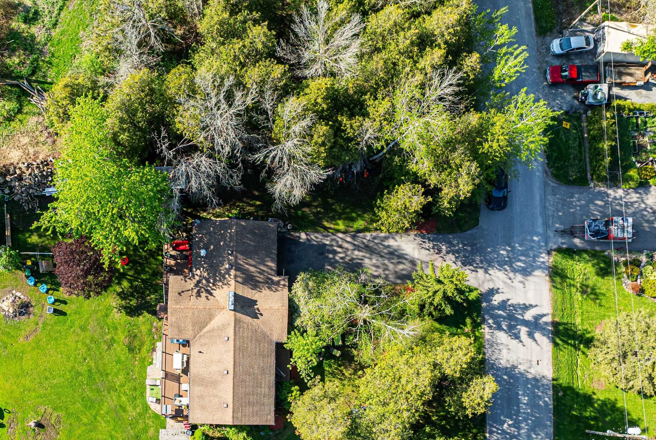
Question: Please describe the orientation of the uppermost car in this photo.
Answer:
horizontally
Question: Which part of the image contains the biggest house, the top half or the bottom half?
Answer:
bottom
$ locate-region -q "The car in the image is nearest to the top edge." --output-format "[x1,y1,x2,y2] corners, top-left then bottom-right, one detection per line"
[548,36,594,57]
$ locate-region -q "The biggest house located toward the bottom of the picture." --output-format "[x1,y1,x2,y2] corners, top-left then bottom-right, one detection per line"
[167,217,290,426]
